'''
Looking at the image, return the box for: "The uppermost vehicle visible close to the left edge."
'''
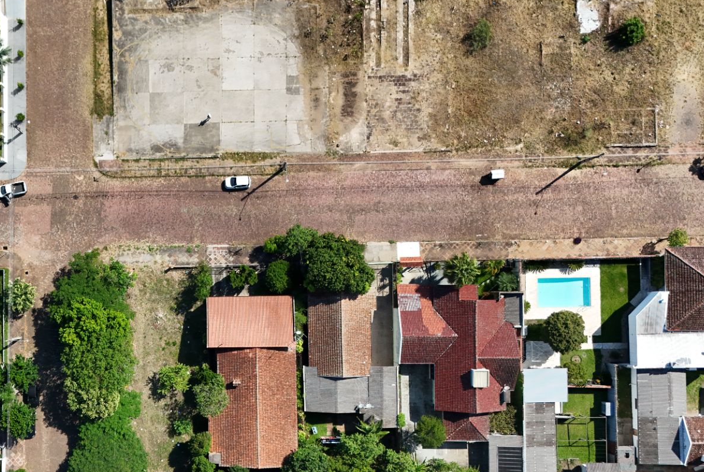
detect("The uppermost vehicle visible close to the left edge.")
[0,181,29,204]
